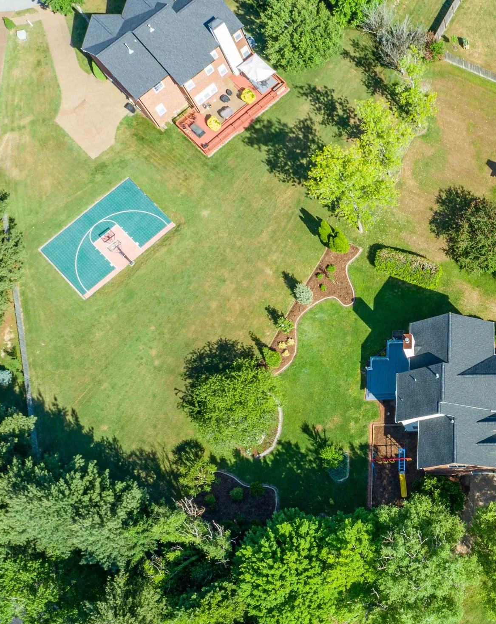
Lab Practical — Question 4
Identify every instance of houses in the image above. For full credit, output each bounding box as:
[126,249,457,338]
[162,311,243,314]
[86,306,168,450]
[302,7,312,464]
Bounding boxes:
[82,0,253,121]
[395,315,496,471]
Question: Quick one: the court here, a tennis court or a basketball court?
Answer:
basketball court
